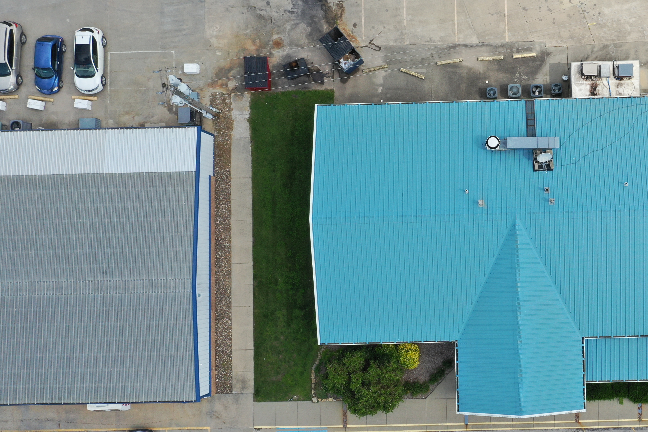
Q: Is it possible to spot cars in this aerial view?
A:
Yes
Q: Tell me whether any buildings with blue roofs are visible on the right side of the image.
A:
Yes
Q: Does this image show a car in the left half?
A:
Yes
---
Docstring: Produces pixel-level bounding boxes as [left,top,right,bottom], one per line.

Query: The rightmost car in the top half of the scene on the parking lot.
[69,25,107,95]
